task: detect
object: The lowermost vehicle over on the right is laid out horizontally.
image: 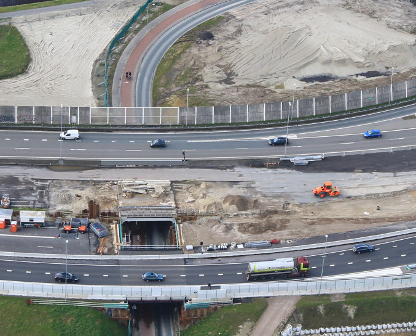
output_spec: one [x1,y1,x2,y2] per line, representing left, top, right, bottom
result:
[247,257,311,282]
